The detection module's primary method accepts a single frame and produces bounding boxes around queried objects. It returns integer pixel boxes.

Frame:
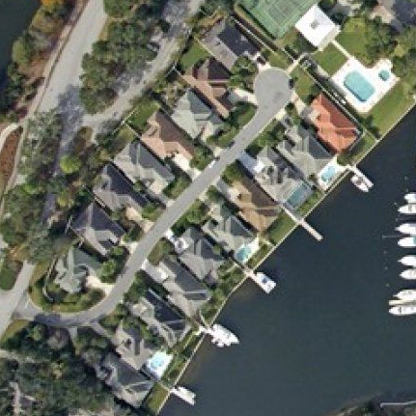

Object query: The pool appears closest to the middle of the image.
[235,237,259,263]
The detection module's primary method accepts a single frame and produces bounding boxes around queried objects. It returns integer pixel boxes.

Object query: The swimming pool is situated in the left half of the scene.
[146,351,173,379]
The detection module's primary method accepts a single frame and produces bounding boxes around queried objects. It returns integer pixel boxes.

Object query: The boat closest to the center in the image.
[257,272,275,291]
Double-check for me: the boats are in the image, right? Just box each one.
[400,256,416,267]
[353,176,370,192]
[396,223,416,235]
[400,203,416,214]
[178,386,195,400]
[394,289,416,299]
[405,192,416,202]
[389,306,416,317]
[401,268,416,279]
[398,236,416,247]
[213,324,239,343]
[257,272,275,291]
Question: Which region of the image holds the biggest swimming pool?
top right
